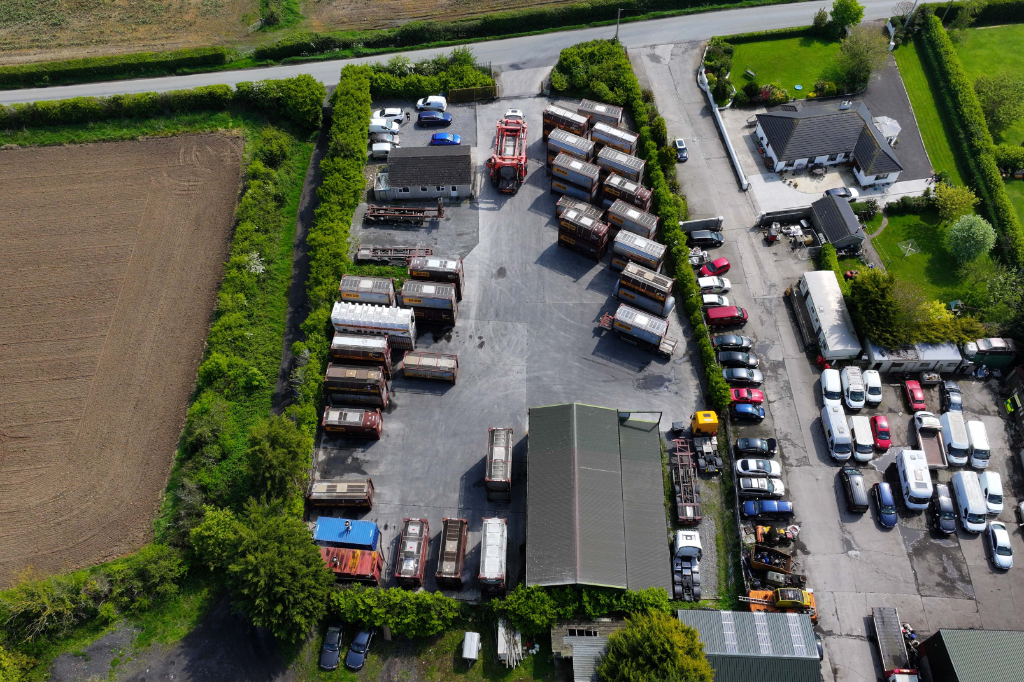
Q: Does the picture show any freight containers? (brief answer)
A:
Yes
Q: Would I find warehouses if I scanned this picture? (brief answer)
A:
Yes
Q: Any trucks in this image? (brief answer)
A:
Yes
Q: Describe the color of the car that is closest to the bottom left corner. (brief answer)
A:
black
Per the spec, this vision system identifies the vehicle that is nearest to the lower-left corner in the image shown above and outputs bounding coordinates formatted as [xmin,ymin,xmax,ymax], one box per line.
[318,622,345,673]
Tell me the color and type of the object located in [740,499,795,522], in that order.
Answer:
blue truck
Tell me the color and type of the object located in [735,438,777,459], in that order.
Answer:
black car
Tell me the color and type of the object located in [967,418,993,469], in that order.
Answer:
white vehicle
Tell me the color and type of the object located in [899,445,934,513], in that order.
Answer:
white camper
